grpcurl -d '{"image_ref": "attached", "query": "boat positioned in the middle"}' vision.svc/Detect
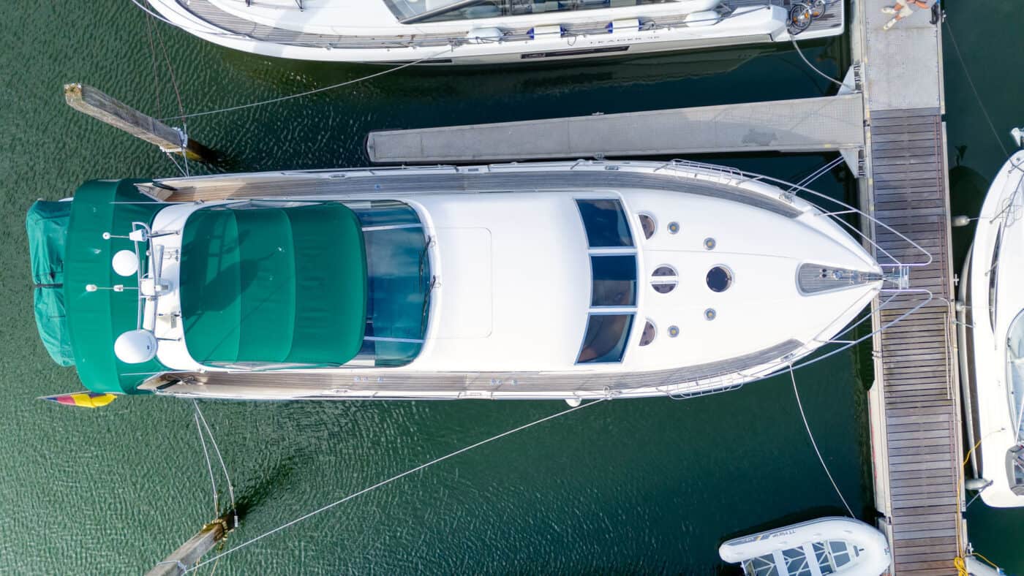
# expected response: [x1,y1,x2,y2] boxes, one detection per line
[36,158,934,408]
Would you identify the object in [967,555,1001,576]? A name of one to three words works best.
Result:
pier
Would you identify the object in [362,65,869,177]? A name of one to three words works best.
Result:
pier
